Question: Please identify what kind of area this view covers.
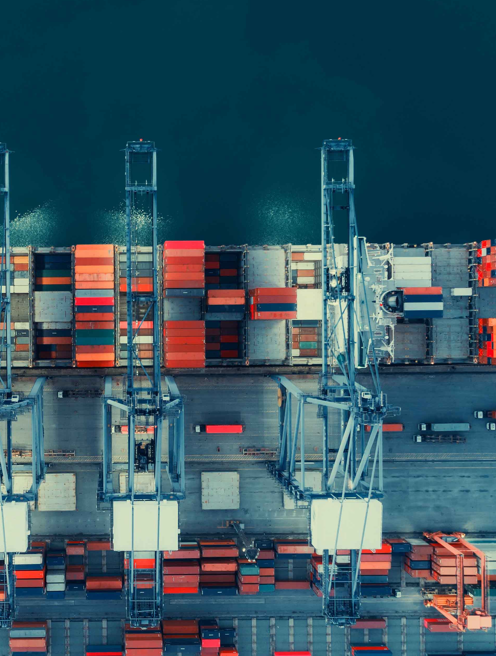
port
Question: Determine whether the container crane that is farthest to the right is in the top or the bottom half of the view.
bottom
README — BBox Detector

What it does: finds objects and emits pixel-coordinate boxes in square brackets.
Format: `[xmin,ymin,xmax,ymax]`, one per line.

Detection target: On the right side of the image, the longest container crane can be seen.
[263,135,388,628]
